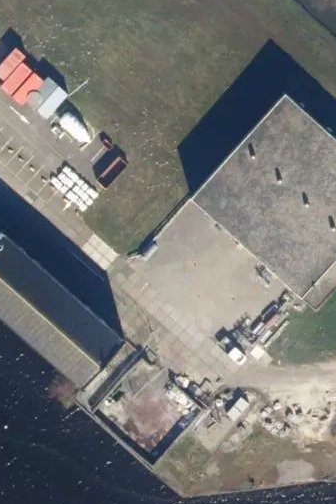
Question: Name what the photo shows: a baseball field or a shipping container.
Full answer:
There is a shipping container in the scene.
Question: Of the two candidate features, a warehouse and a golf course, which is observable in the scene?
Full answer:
I can see a warehouse in this picture.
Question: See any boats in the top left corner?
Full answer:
Yes, a boat appears in the top left corner.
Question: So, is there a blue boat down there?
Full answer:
No, no blue boat is visible in the view.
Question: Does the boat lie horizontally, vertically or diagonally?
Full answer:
Seen from above, the boat lies diagonally.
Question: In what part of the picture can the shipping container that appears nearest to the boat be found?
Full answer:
The shipping container that appears nearest to the boat is located in the top left region of the scene.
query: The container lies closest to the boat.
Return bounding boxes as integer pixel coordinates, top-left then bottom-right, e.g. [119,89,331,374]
[37,84,69,119]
